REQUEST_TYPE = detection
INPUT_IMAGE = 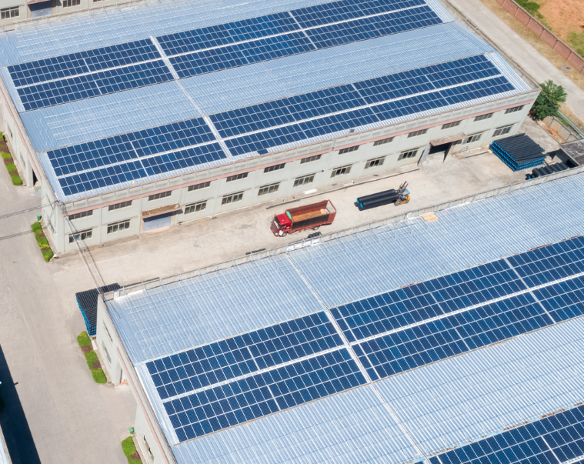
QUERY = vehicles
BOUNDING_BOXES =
[269,201,337,235]
[393,183,412,206]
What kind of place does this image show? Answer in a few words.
industrial area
